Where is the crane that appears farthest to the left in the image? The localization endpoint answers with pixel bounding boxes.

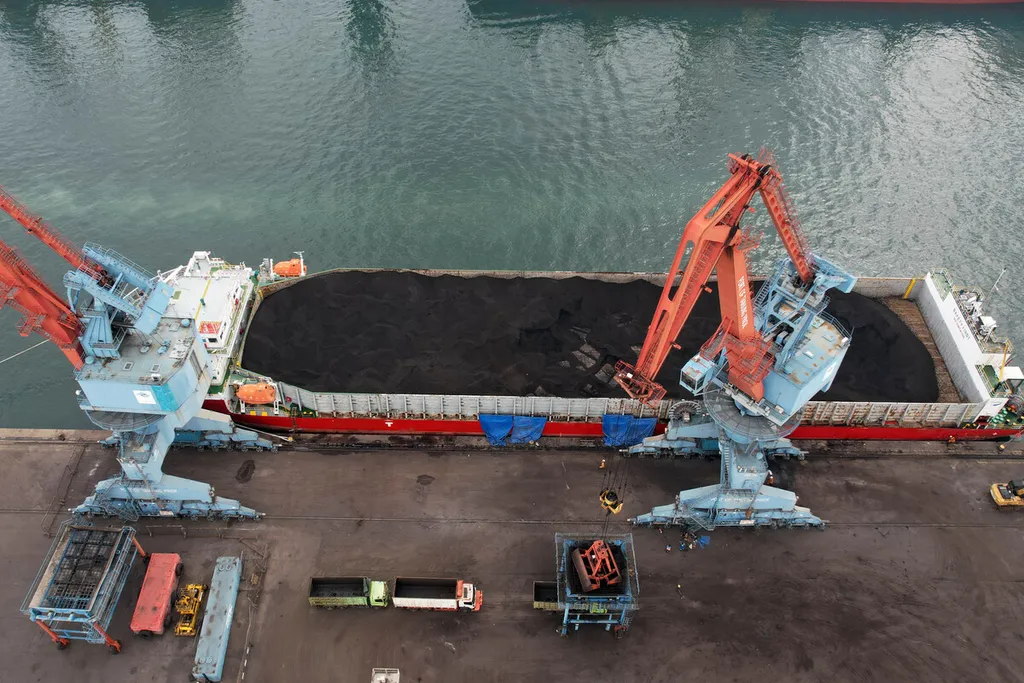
[0,192,281,534]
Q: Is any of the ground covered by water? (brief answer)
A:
Yes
